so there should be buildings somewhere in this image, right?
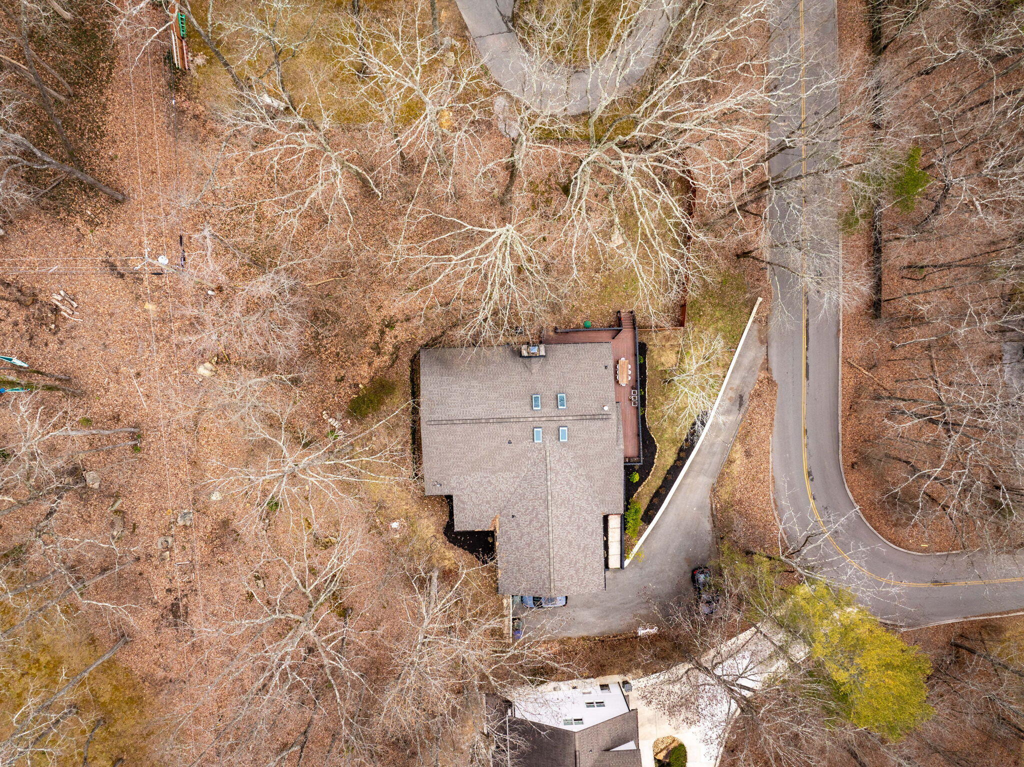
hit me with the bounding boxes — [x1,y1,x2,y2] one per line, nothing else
[485,680,646,767]
[419,341,624,598]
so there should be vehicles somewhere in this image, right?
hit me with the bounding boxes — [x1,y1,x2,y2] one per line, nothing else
[523,595,568,608]
[690,564,719,614]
